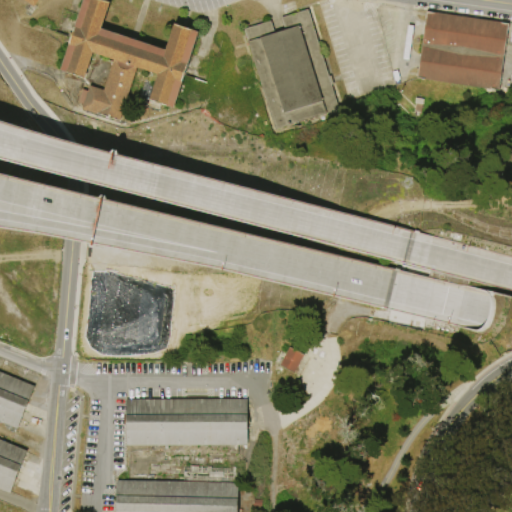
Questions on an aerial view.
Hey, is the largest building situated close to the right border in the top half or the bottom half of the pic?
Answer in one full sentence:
It is in the top half that the largest building situated close to the right border appears.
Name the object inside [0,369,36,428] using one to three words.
building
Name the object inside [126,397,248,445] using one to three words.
building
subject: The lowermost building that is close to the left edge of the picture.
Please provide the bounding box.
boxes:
[0,437,28,492]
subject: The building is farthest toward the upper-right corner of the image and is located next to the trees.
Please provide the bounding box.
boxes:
[419,10,510,88]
